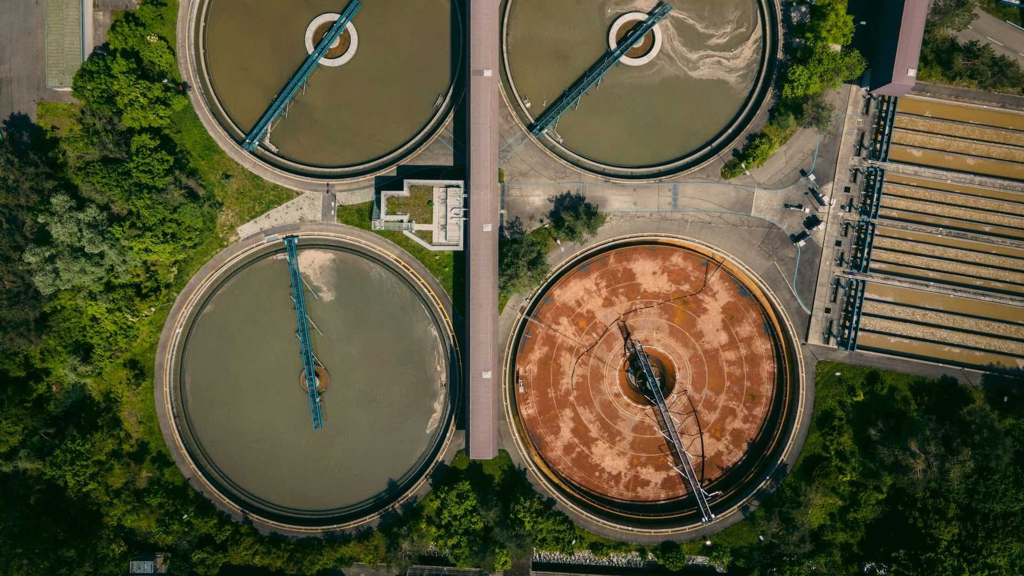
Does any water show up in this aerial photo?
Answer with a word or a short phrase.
Yes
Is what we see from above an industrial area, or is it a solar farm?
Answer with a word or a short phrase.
industrial area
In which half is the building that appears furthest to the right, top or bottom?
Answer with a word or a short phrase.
top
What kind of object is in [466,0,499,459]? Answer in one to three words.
building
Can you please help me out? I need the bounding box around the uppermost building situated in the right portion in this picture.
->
[871,0,930,95]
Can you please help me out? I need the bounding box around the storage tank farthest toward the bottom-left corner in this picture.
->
[167,235,460,528]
